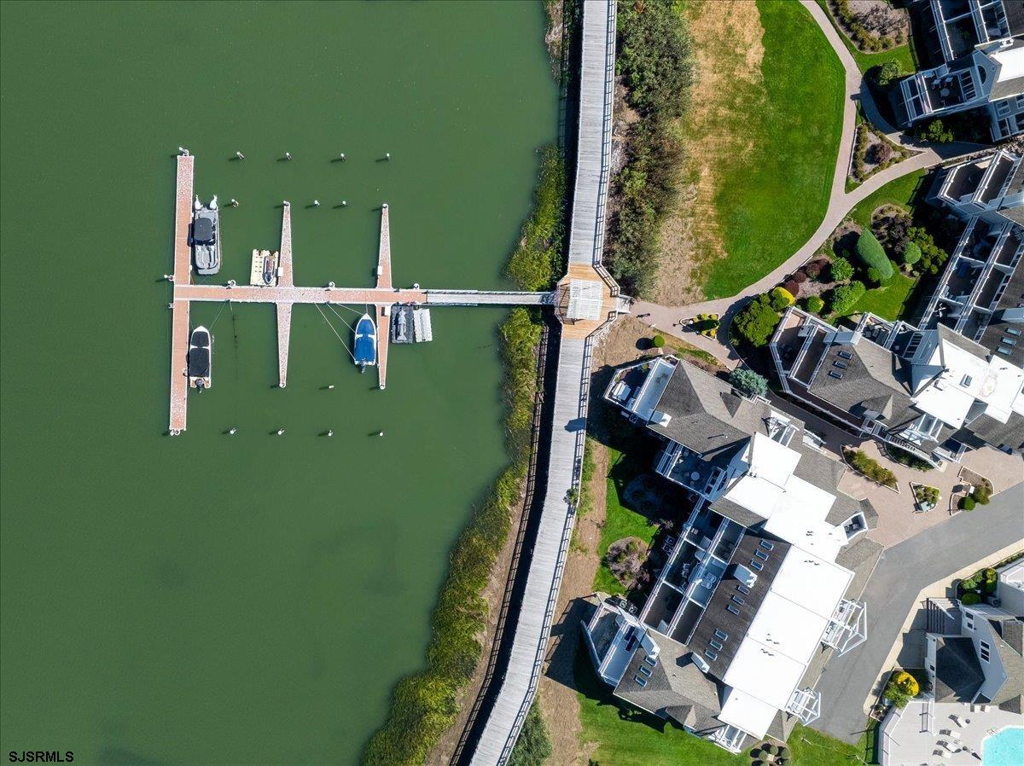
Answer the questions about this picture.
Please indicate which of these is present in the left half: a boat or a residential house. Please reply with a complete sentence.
You can see a boat in the left half.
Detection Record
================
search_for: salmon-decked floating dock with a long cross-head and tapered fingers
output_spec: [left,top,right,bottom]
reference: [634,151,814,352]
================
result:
[170,156,427,429]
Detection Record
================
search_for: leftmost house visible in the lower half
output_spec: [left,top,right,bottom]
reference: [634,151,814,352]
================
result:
[580,357,884,756]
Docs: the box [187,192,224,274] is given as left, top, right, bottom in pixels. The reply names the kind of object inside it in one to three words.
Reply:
boat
